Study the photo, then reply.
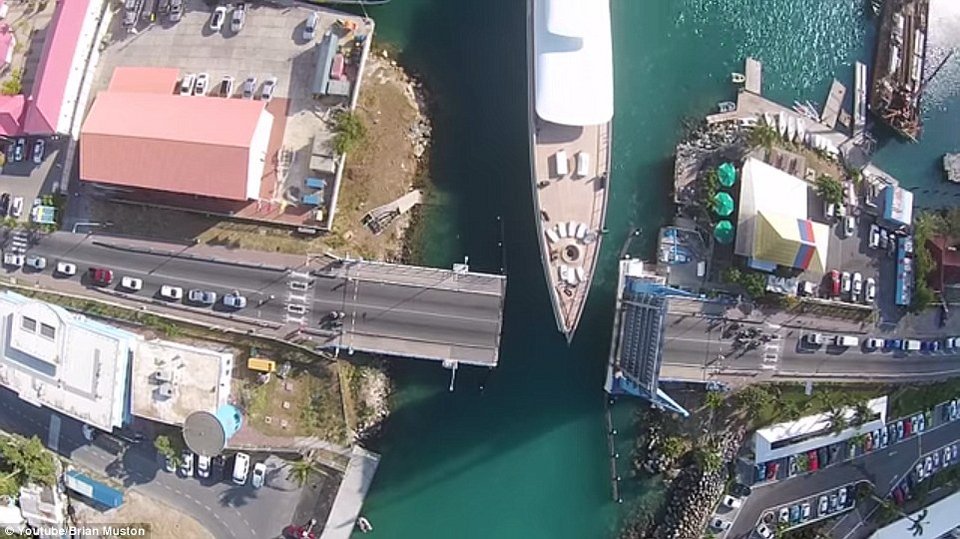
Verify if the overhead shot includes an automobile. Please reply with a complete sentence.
Yes, there's an automobile down there.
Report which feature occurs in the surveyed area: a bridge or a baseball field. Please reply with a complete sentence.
Visible in the photo is a bridge.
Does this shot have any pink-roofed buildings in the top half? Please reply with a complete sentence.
Yes, there is a pink-roofed building in the top half.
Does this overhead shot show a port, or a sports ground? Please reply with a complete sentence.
It's a port.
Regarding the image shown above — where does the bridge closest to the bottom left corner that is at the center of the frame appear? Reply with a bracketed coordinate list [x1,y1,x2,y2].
[338,259,507,367]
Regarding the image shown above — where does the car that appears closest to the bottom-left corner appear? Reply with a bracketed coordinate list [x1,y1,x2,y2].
[81,424,98,442]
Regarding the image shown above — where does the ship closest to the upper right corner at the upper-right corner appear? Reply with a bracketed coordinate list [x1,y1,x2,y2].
[865,0,952,143]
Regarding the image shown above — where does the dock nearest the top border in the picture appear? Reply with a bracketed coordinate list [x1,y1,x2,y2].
[742,57,762,95]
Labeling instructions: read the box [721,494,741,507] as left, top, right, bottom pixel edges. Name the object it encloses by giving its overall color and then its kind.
white vehicle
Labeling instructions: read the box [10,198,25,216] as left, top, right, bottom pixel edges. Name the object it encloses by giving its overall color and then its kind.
white car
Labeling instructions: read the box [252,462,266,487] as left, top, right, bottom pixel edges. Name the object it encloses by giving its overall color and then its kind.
white car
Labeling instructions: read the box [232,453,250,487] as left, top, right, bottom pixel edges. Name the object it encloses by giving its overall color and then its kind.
white vehicle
